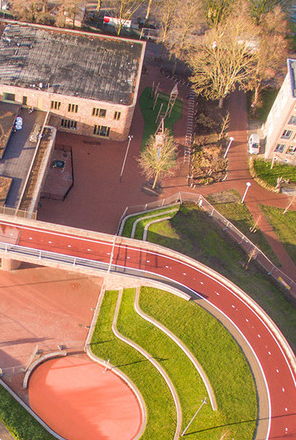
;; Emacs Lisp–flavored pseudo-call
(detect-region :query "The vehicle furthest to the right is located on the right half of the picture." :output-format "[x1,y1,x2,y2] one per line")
[249,134,263,152]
